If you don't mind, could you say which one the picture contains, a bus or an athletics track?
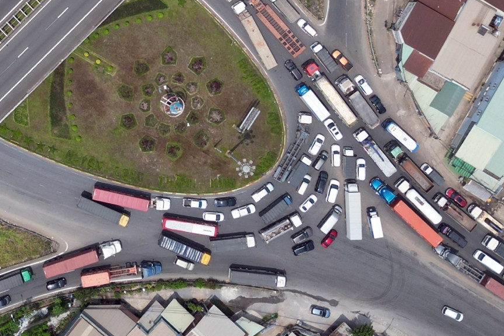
bus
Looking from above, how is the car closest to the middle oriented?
diagonally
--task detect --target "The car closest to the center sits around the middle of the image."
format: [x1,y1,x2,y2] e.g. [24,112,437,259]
[249,181,275,203]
